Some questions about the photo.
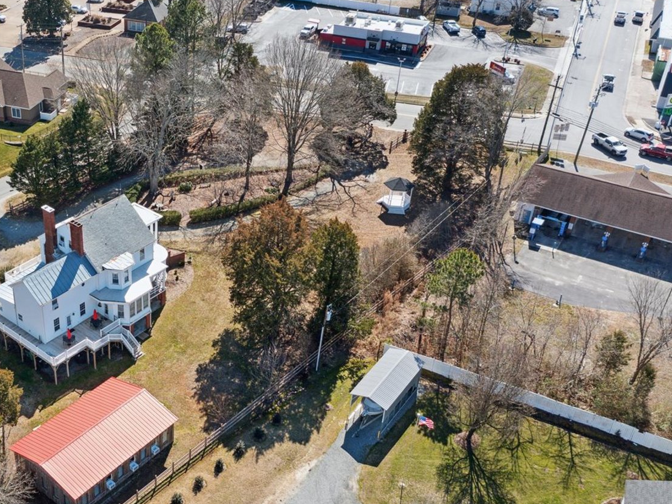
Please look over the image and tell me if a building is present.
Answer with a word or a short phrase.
Yes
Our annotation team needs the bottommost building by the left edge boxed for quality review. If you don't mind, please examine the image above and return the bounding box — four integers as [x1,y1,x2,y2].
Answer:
[8,379,177,504]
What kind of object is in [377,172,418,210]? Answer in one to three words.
gazebo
